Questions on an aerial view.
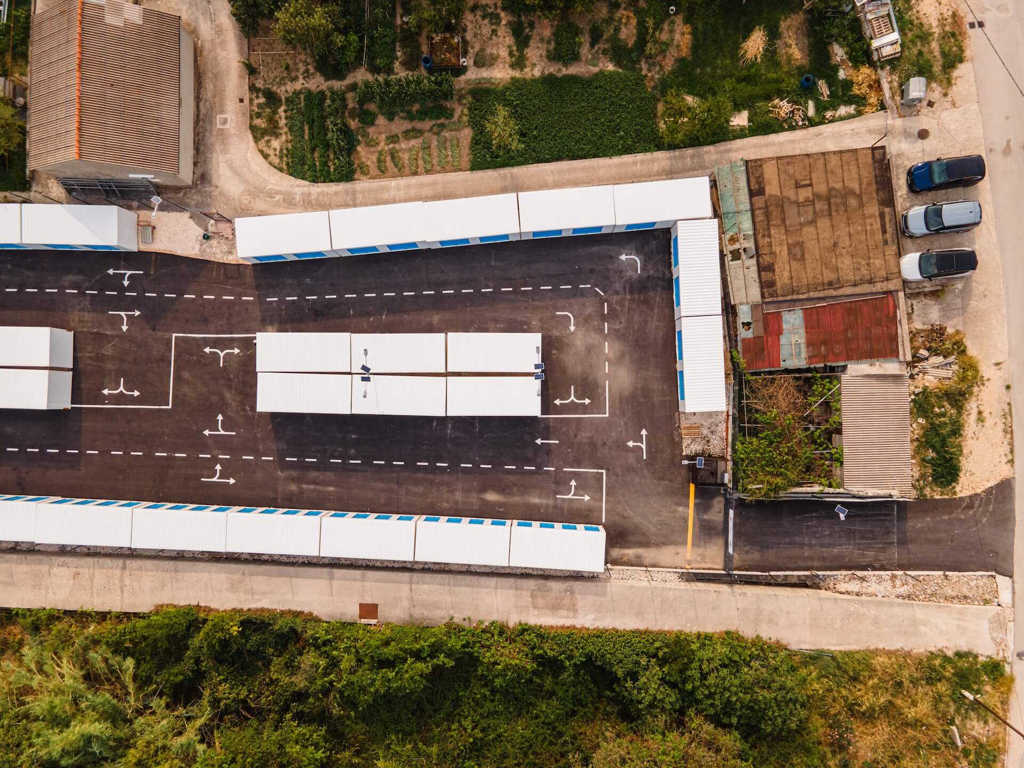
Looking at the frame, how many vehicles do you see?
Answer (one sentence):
There are 3 vehicles in the image.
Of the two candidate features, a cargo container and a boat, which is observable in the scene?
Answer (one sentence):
There is a cargo container in the scene.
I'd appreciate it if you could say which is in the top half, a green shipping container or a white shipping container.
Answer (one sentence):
The feature located in the top half is a white shipping container.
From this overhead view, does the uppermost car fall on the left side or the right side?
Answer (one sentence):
The uppermost car is on the right side of the image.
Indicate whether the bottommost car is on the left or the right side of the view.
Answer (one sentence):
The bottommost car appears in the right half of the scene.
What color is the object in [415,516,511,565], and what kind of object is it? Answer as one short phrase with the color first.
white shipping container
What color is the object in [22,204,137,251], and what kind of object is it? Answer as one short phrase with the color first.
white shipping container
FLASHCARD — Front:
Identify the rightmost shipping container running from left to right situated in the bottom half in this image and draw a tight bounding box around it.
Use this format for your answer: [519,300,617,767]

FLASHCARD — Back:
[510,520,606,570]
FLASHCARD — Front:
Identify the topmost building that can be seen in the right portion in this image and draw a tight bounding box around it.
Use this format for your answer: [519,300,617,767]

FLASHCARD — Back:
[742,145,904,303]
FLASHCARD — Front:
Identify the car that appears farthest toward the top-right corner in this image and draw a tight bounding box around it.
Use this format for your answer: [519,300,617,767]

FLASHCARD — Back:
[904,156,987,193]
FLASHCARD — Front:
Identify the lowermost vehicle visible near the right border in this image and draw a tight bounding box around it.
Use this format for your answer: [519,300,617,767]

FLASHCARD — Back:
[900,247,979,282]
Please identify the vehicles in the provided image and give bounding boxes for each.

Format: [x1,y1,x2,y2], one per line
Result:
[904,156,987,193]
[899,201,983,237]
[900,247,979,282]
